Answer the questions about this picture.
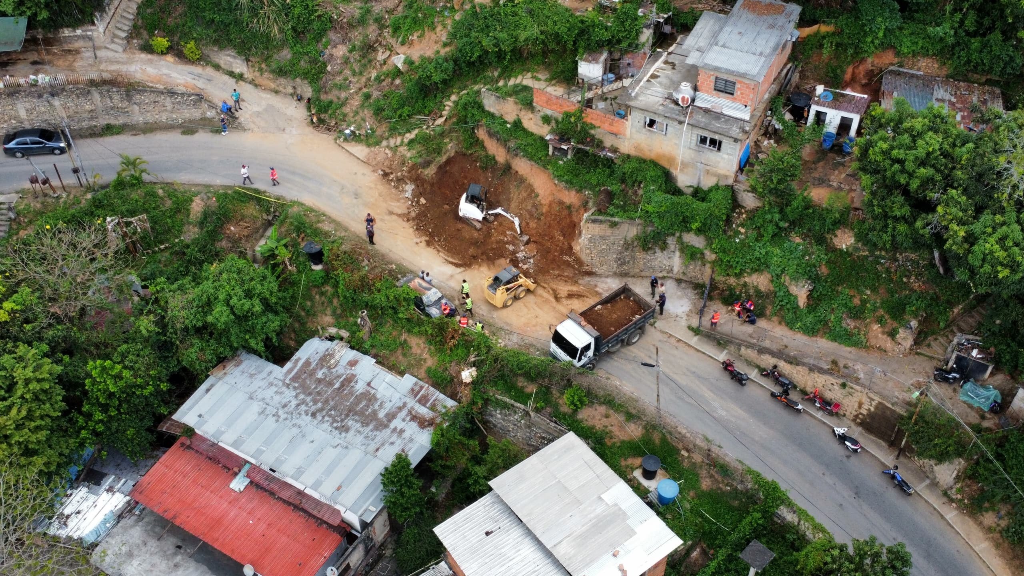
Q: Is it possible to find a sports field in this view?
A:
No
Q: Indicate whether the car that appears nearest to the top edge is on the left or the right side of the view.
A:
left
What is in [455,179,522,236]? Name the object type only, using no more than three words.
work vehicle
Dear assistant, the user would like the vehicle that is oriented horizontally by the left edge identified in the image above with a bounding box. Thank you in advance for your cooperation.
[0,124,69,156]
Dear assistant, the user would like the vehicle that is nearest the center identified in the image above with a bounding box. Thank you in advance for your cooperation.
[483,260,541,307]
